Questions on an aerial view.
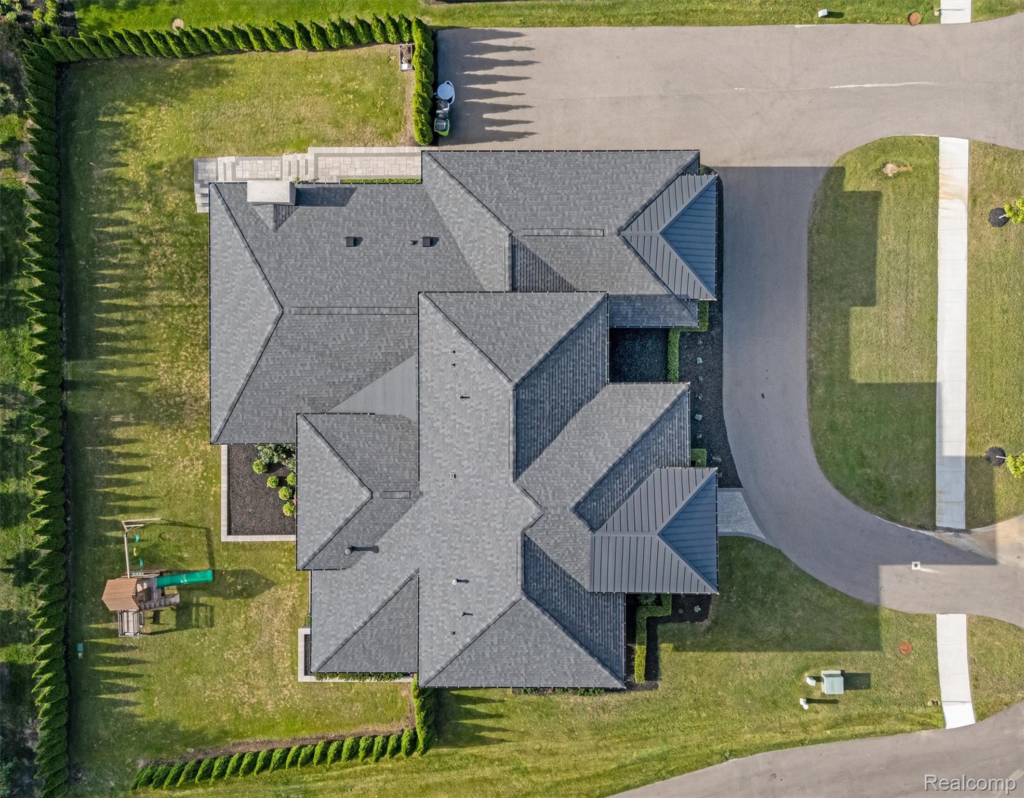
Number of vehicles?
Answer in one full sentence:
There are no vehicles in this view.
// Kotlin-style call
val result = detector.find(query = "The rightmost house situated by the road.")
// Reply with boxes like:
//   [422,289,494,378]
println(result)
[209,151,718,688]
